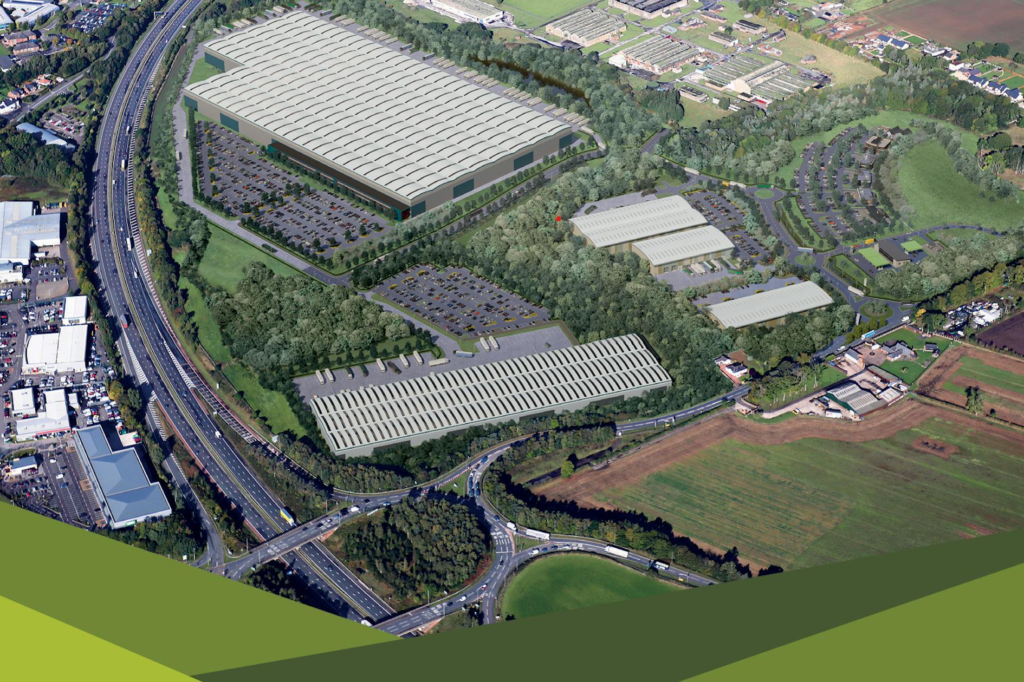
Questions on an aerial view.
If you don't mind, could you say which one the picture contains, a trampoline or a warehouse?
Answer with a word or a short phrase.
warehouse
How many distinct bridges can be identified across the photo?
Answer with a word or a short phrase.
2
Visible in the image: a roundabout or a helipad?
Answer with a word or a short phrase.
roundabout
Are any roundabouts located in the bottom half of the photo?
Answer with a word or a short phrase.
Yes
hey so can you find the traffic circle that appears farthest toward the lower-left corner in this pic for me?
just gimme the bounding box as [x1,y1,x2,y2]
[207,487,512,665]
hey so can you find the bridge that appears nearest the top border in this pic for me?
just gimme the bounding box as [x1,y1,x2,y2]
[242,512,346,566]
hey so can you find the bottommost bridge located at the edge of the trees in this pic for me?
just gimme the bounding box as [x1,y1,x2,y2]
[330,600,444,656]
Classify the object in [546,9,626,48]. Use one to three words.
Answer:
shed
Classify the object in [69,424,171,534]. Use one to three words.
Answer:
building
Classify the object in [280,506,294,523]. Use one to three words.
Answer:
vehicle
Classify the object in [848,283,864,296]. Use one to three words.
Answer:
vehicle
